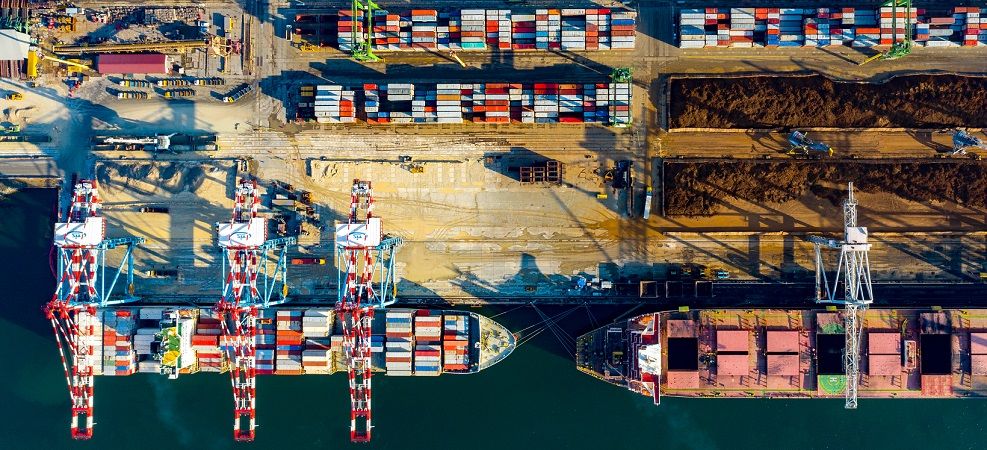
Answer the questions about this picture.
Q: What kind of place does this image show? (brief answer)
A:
port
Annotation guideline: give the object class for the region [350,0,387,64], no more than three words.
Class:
container crane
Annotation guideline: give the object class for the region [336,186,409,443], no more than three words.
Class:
container crane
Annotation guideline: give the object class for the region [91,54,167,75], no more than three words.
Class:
shed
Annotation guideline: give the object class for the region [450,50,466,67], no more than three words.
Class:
vehicle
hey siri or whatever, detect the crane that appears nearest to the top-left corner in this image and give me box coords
[25,45,89,78]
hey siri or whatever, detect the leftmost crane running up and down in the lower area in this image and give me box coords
[42,185,151,443]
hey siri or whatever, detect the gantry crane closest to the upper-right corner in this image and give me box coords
[866,0,914,64]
